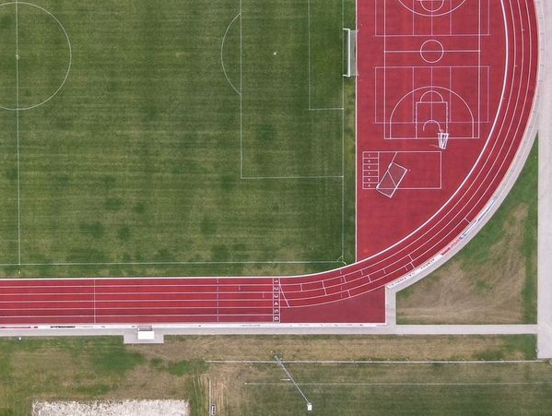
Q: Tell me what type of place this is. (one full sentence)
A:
The picture captures a sports ground.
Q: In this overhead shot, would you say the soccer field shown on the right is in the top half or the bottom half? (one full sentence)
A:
The soccer field shown on the right sits in the bottom half of the picture.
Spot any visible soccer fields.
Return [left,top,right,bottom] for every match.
[232,362,552,416]
[0,0,356,279]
